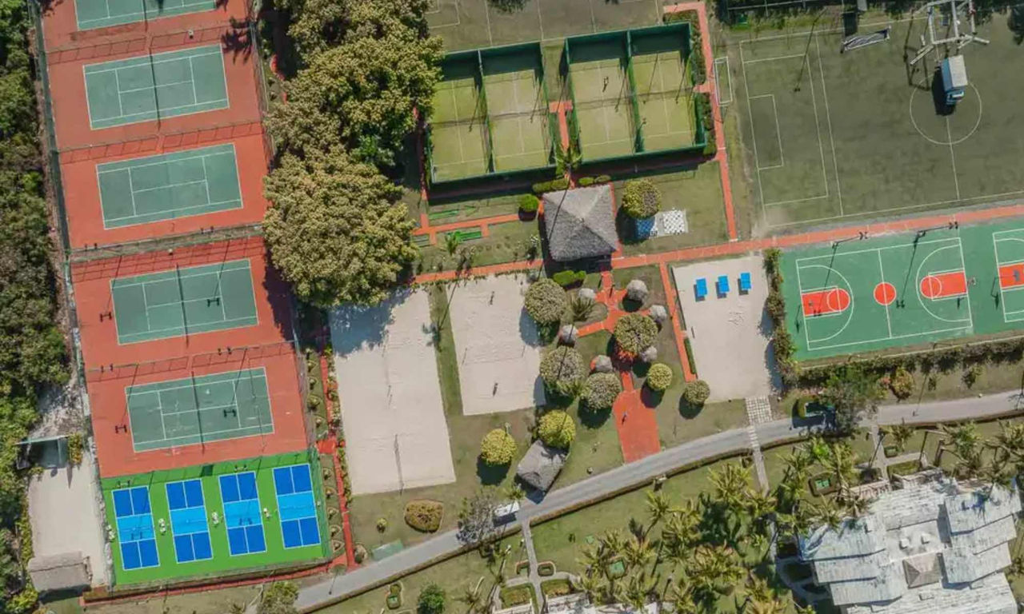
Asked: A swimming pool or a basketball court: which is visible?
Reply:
basketball court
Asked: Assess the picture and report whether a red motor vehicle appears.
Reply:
No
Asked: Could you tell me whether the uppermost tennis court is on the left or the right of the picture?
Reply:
left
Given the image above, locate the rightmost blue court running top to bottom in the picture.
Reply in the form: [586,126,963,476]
[274,464,320,549]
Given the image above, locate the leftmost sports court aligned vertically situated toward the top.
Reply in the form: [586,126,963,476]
[428,60,493,180]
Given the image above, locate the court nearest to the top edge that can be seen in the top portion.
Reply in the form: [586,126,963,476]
[74,0,217,30]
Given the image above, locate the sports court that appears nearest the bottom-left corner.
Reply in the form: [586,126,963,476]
[112,486,159,571]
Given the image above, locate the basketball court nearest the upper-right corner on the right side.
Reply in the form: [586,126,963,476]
[992,229,1024,322]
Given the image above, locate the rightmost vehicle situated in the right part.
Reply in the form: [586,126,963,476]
[939,55,967,103]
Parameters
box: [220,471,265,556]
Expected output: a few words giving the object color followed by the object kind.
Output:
blue sports court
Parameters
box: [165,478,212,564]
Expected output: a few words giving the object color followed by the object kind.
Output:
blue sports court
